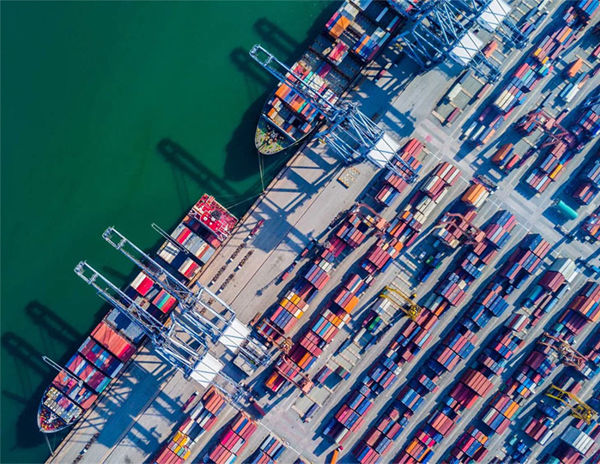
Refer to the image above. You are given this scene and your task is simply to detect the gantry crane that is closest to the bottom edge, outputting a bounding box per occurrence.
[542,382,599,429]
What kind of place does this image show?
port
